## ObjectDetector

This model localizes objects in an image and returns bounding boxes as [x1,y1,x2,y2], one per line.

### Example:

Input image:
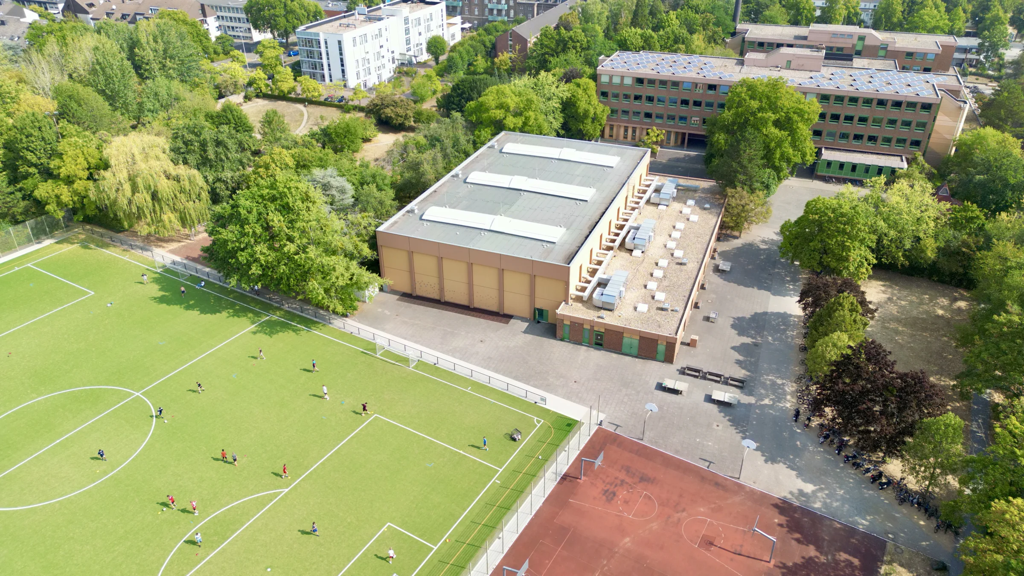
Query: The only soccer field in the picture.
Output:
[0,232,580,576]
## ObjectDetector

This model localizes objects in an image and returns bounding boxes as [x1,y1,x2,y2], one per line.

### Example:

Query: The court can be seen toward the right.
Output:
[490,426,888,576]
